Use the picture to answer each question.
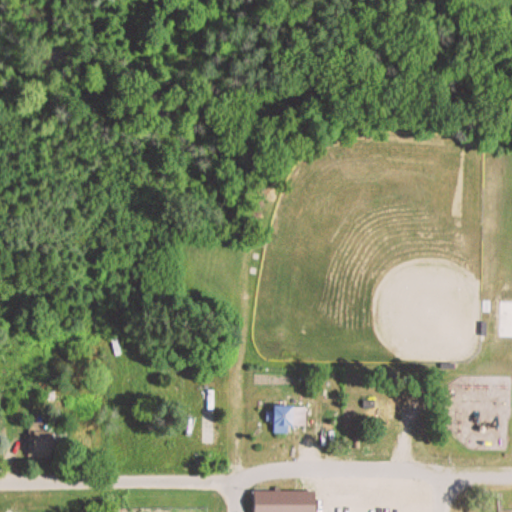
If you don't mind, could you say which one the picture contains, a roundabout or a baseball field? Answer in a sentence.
I can see a baseball field in this picture.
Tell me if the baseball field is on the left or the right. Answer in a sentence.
The baseball field sits on the right side.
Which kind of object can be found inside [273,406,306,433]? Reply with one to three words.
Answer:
house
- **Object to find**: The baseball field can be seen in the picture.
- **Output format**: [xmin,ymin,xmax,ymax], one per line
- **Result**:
[255,140,483,362]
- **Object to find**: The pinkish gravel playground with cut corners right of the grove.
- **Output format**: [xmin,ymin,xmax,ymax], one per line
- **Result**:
[450,376,512,451]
